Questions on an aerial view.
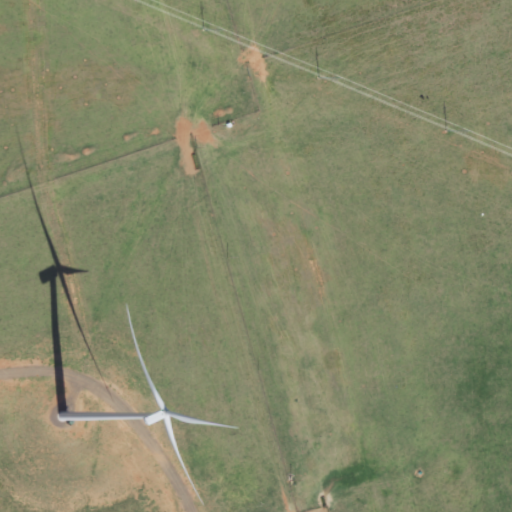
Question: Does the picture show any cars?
No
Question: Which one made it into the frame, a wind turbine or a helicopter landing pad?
wind turbine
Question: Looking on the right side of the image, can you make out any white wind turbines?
No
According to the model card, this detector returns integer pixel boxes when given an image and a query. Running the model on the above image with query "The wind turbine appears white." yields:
[59,304,238,504]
